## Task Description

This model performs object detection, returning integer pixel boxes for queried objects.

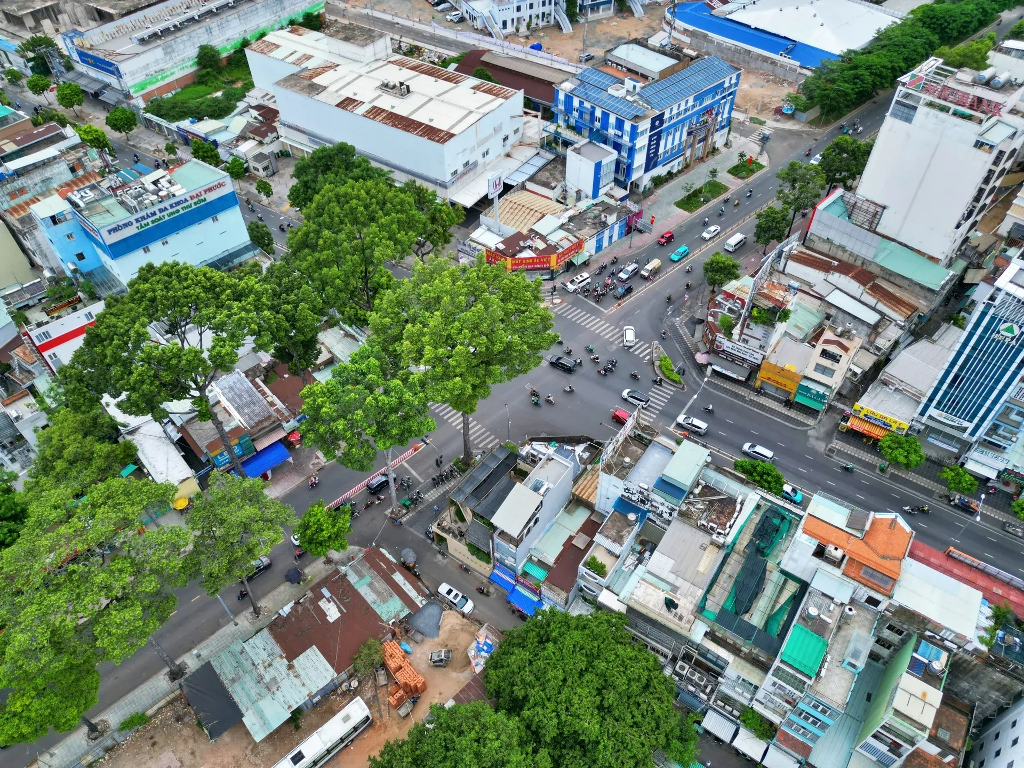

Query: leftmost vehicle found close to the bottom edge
[263,696,376,768]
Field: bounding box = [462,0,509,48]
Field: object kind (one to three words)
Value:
building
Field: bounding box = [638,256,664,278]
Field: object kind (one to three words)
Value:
vehicle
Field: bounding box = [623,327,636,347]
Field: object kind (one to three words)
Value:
vehicle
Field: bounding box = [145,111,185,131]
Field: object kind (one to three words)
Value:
house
